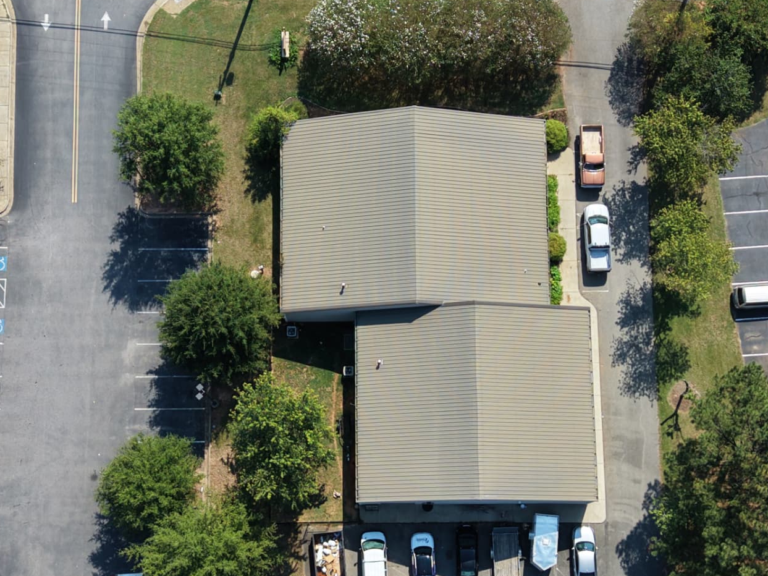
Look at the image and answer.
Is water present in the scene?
No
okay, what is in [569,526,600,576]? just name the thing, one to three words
car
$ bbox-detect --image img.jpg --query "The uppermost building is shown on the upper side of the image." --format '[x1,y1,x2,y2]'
[277,108,553,318]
